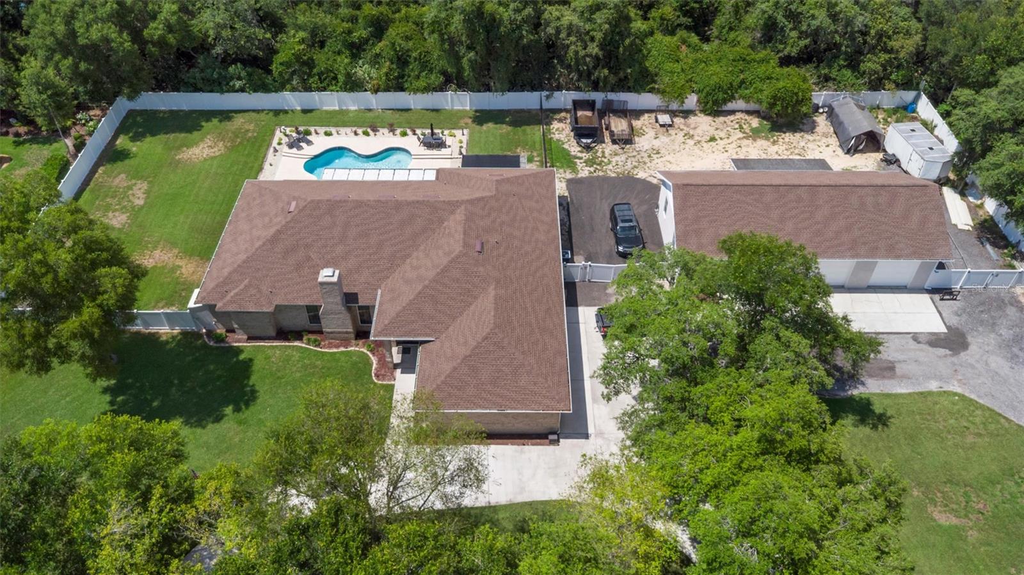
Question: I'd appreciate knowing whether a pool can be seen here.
Yes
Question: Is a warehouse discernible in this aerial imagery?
No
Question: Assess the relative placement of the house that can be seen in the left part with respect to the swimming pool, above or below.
below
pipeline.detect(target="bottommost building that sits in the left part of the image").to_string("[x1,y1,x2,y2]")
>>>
[194,168,573,432]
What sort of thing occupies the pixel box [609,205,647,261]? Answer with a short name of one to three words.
car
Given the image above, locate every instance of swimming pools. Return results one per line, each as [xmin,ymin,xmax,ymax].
[300,144,415,180]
